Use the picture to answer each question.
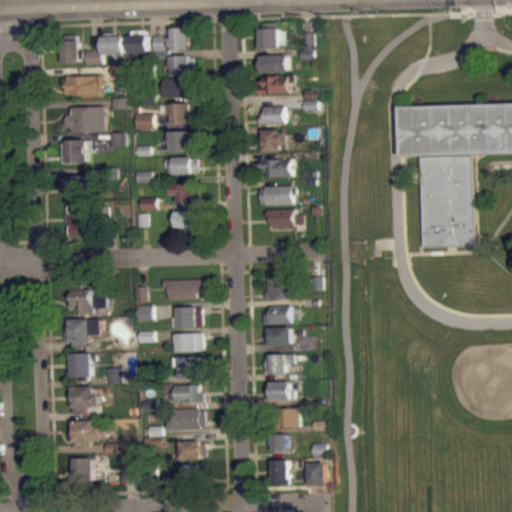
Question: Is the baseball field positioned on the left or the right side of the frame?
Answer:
right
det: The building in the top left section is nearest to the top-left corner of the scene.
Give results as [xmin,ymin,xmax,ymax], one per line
[62,36,85,63]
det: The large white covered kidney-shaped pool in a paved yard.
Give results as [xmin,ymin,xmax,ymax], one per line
[112,320,134,350]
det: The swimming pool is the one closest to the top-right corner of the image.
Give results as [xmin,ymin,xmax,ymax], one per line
[308,127,322,140]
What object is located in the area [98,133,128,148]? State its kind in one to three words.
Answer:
building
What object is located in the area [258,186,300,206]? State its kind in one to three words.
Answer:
house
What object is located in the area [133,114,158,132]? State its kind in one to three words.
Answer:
building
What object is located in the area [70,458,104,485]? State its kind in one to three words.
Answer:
house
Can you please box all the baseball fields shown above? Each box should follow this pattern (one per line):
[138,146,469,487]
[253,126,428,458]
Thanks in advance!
[452,343,512,420]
